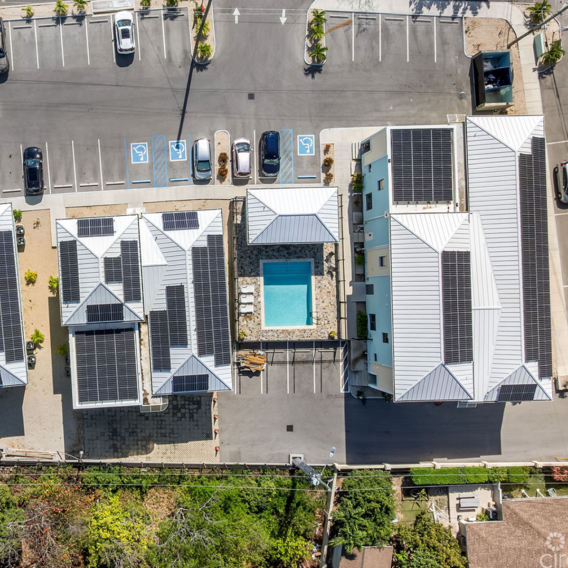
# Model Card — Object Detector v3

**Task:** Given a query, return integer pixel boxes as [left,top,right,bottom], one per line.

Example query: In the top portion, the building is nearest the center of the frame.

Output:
[244,186,340,246]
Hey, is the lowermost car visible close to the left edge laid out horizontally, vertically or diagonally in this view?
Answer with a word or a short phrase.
vertically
